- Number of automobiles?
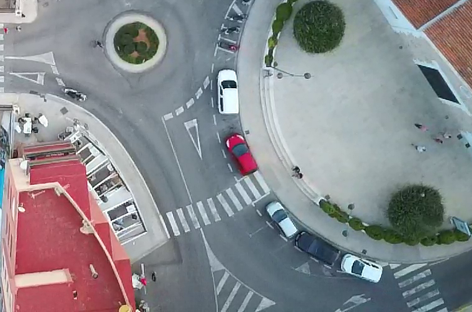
5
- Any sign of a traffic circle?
Yes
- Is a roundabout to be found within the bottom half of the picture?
No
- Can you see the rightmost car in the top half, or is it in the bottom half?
bottom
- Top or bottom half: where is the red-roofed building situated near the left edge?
bottom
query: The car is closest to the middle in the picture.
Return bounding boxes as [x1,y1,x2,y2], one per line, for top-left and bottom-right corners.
[224,132,258,178]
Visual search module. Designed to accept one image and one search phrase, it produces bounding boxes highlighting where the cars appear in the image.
[293,229,343,268]
[264,199,300,242]
[216,69,242,115]
[338,251,386,284]
[224,132,258,178]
